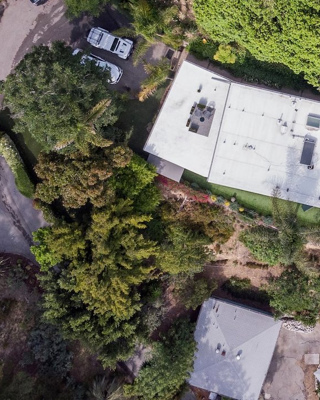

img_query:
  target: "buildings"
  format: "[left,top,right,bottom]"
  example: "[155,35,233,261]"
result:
[188,295,284,400]
[143,61,320,207]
